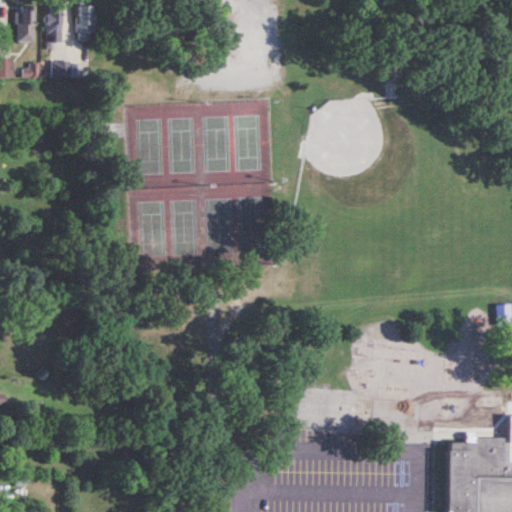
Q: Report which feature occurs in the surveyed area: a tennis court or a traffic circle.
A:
tennis court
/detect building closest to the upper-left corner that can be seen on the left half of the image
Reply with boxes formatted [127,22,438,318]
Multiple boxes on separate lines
[17,4,36,44]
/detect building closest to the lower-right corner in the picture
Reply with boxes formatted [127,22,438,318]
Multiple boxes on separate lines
[452,416,512,512]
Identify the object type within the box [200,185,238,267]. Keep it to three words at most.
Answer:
tennis court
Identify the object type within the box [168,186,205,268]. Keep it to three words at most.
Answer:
tennis court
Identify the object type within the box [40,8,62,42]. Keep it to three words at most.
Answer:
house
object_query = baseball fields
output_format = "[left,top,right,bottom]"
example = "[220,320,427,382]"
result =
[276,88,512,302]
